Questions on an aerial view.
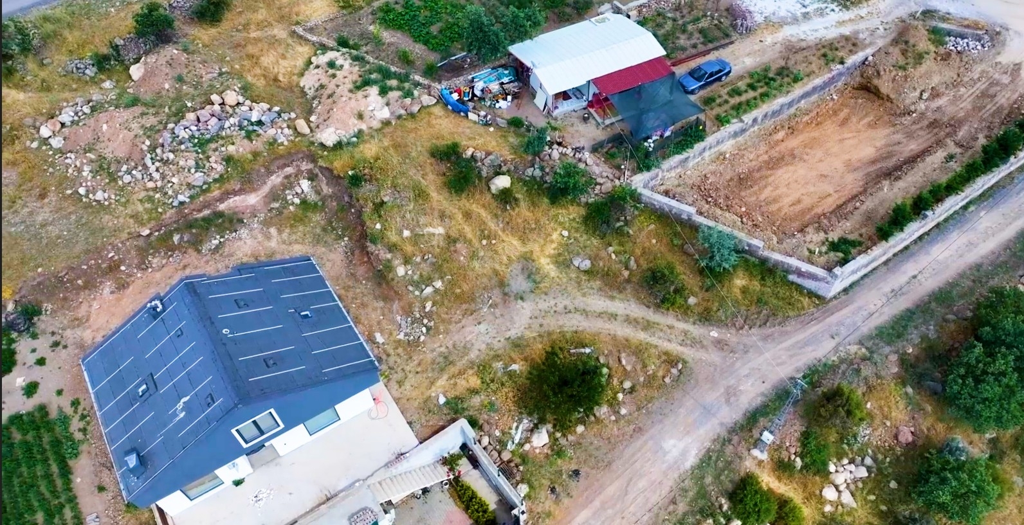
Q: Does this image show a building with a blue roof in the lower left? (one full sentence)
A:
Yes, you'll find a building with a blue roof in the lower left.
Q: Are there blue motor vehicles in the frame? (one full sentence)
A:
Yes, the picture does show a blue motor vehicle.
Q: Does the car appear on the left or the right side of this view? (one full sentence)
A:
You can find the car on the right side of the picture.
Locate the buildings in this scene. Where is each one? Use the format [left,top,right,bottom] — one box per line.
[503,16,664,124]
[84,257,379,517]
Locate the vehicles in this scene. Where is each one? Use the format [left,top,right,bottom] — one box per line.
[681,56,735,93]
